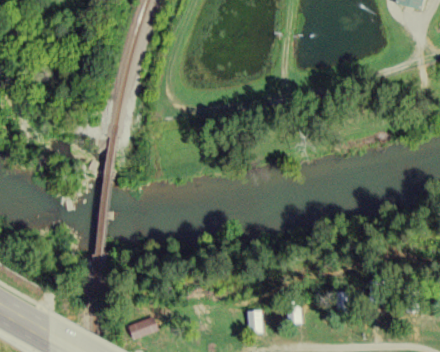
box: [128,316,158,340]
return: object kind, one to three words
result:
barn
